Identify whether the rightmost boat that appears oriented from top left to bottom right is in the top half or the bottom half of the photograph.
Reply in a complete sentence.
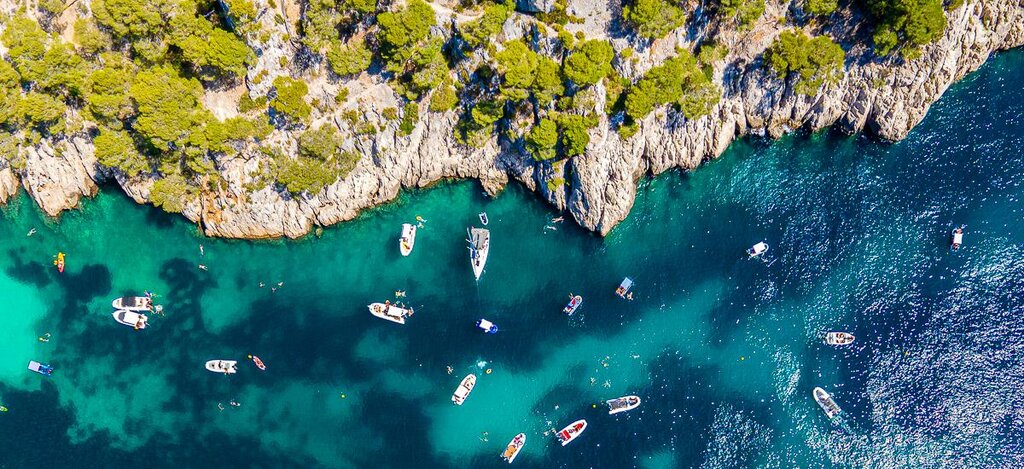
Seen from above, the rightmost boat that appears oriented from top left to bottom right lies in the bottom half of the view.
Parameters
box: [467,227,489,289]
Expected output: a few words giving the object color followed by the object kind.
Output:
white boat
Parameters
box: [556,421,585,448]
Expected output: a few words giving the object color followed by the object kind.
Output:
white boat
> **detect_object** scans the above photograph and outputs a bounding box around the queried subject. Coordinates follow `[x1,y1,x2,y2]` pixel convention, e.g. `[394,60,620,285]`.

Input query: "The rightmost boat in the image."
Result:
[950,229,964,252]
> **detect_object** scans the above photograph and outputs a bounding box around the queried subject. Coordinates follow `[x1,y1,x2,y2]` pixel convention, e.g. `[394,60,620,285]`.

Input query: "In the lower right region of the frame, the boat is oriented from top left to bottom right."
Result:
[815,388,841,418]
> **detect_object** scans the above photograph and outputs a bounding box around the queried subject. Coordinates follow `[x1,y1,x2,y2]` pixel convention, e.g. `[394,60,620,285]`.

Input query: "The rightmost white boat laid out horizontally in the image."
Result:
[823,331,855,345]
